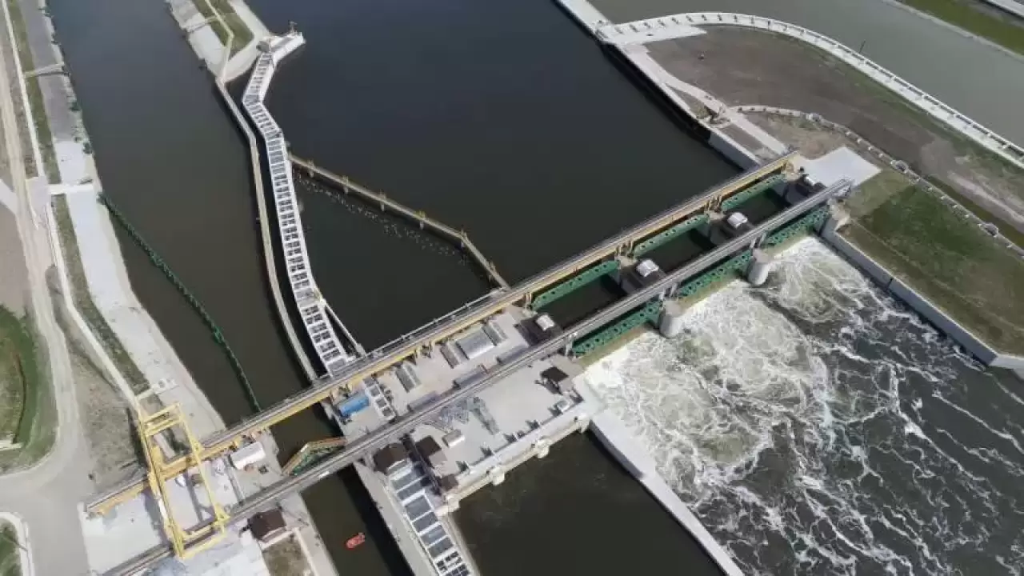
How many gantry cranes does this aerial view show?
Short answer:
1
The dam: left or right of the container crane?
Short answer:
to the right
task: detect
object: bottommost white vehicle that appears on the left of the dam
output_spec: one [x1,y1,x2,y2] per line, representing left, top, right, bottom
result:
[172,476,193,491]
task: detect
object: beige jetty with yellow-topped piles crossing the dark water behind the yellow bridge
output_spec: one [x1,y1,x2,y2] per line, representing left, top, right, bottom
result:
[287,154,506,289]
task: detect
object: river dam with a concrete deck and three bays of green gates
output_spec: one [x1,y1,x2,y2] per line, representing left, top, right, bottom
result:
[321,166,852,576]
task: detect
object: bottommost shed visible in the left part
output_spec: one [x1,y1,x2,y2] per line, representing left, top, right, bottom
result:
[251,507,286,543]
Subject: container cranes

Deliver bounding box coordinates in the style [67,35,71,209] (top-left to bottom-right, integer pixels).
[126,401,234,562]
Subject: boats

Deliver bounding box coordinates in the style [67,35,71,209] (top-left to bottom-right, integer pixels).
[345,532,363,548]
